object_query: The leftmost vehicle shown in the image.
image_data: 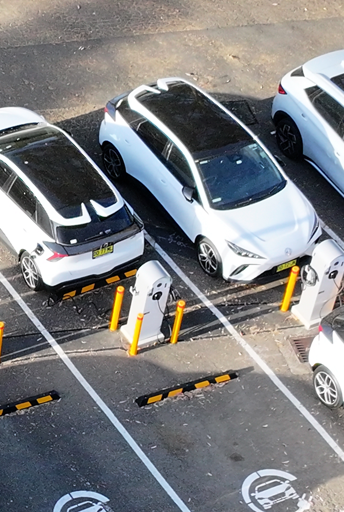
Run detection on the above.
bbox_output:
[0,107,143,290]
